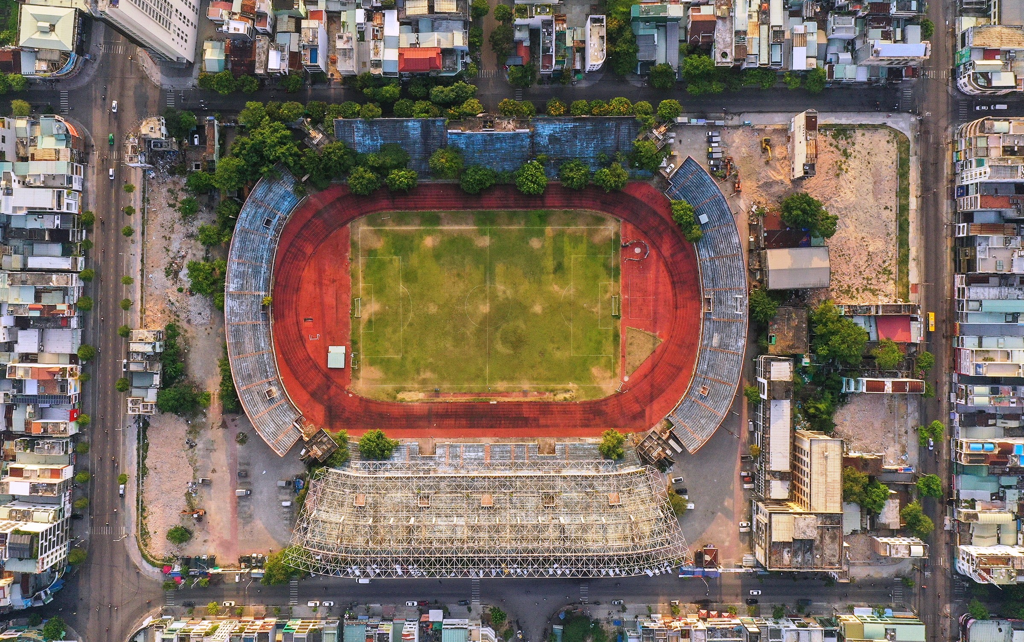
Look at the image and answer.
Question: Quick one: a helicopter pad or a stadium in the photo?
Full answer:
There is a stadium in the scene.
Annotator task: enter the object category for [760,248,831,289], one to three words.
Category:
building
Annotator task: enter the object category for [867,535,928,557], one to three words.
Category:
house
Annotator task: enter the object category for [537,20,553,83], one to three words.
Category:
house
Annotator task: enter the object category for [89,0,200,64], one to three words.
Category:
building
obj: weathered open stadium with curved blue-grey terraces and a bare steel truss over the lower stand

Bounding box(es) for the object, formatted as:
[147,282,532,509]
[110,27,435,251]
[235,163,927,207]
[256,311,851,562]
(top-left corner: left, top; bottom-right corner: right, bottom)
[223,118,749,578]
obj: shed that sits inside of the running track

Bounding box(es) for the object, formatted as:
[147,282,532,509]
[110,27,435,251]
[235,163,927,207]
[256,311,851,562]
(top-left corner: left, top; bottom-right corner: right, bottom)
[326,346,345,369]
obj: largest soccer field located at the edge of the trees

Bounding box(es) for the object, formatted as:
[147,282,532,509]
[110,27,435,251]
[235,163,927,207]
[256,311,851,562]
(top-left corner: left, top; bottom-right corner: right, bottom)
[351,210,620,402]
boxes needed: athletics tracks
[274,183,703,438]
